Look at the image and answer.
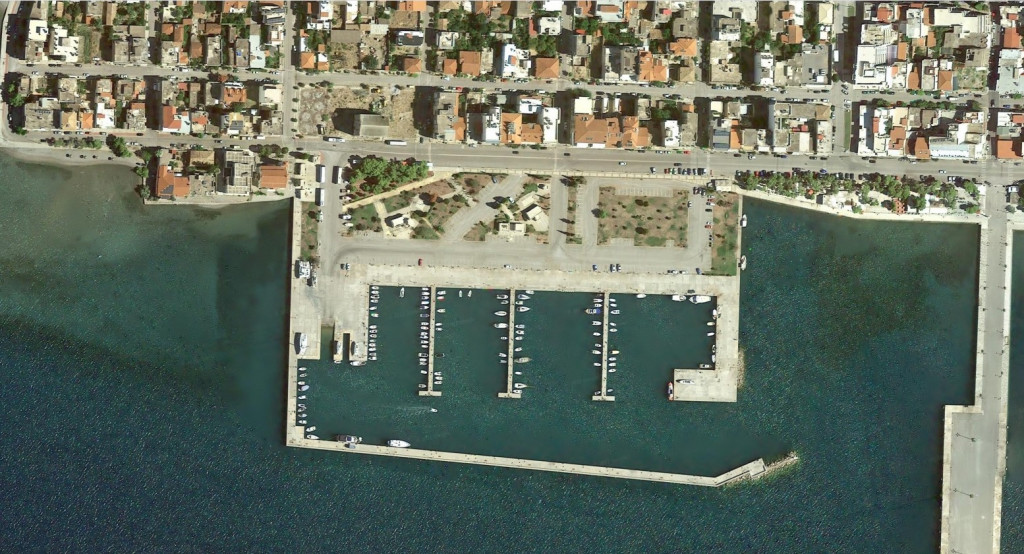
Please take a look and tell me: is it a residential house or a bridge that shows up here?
residential house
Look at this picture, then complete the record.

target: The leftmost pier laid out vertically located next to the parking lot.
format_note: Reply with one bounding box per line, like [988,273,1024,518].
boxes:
[418,287,441,396]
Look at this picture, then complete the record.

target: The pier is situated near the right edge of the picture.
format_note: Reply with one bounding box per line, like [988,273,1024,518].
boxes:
[941,186,1012,554]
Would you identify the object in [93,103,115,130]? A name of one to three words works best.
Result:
building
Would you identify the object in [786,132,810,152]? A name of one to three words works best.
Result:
house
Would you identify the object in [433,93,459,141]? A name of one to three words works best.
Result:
building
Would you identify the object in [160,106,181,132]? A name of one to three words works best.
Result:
house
